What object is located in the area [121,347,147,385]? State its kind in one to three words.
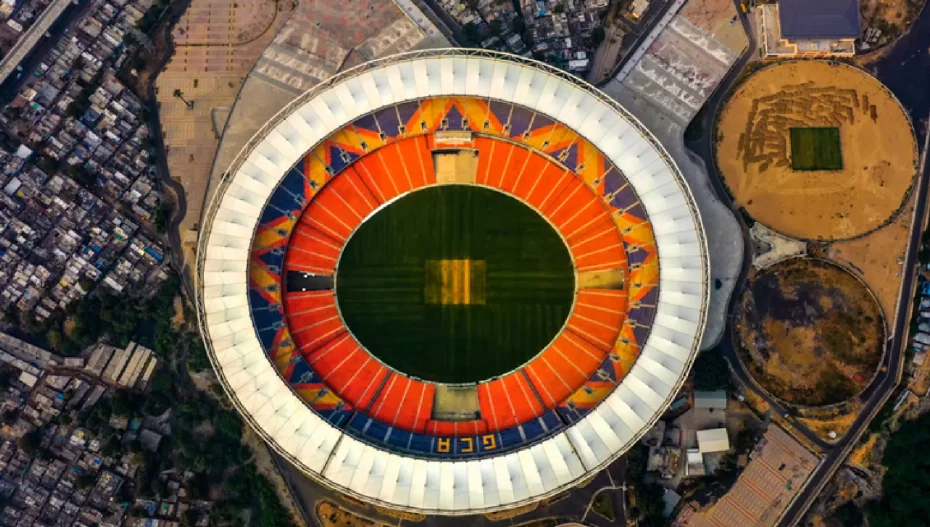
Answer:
shed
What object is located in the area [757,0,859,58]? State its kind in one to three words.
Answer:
building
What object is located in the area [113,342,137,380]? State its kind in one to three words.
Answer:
shed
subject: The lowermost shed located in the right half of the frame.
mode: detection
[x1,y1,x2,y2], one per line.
[662,488,684,515]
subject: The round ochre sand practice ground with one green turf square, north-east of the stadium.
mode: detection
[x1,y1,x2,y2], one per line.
[715,57,918,242]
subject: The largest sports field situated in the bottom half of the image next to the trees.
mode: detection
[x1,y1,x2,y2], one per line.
[734,257,887,406]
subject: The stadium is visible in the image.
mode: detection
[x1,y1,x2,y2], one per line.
[196,46,710,515]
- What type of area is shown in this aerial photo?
sports ground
